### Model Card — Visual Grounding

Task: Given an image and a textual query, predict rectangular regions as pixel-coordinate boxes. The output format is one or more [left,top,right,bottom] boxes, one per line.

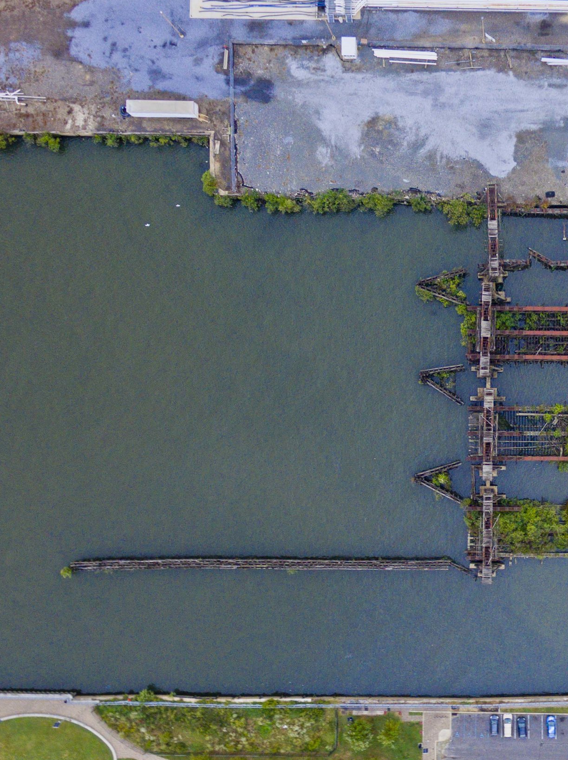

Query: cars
[546,715,557,738]
[502,713,512,738]
[490,715,500,736]
[517,716,527,740]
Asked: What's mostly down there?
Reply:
water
